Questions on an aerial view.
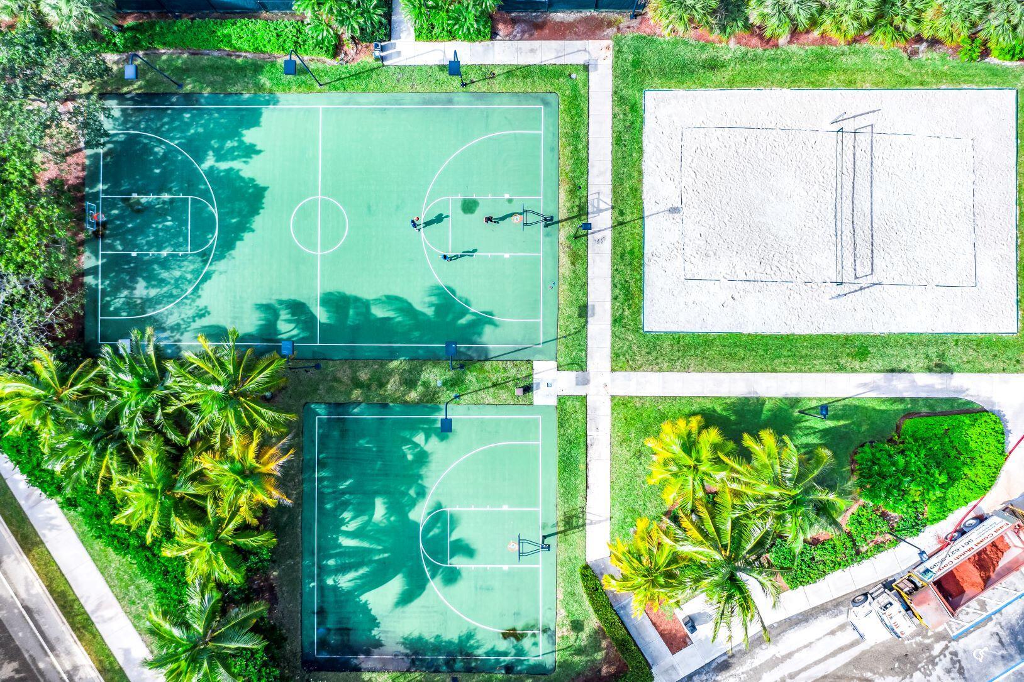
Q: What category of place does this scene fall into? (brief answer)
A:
sports ground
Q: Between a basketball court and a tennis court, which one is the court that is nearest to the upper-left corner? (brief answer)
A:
basketball court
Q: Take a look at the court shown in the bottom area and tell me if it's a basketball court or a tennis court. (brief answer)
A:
basketball court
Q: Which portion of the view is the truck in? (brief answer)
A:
bottom right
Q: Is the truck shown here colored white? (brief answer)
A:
Yes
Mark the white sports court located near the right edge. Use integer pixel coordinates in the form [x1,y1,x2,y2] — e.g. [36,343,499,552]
[642,88,1019,334]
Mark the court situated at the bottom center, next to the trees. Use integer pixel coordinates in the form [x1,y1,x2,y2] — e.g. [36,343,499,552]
[301,401,558,679]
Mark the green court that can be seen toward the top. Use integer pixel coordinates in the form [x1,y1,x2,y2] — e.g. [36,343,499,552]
[84,92,560,364]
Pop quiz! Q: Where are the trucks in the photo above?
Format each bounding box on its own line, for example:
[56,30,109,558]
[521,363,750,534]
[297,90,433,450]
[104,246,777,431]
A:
[840,504,1024,644]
